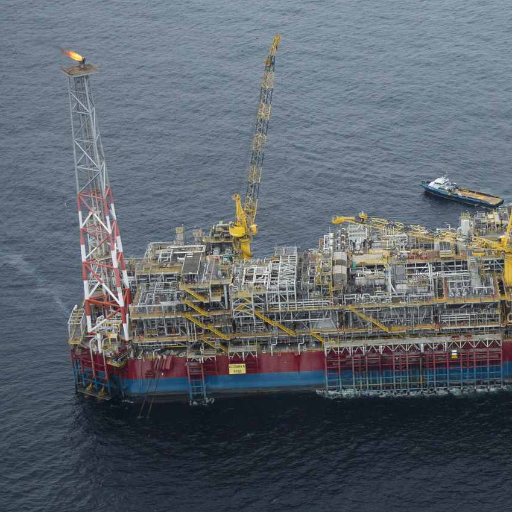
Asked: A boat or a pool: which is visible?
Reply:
boat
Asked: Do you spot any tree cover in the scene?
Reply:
No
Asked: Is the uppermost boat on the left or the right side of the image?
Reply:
right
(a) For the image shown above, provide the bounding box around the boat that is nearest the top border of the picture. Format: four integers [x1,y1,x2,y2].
[419,172,504,211]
